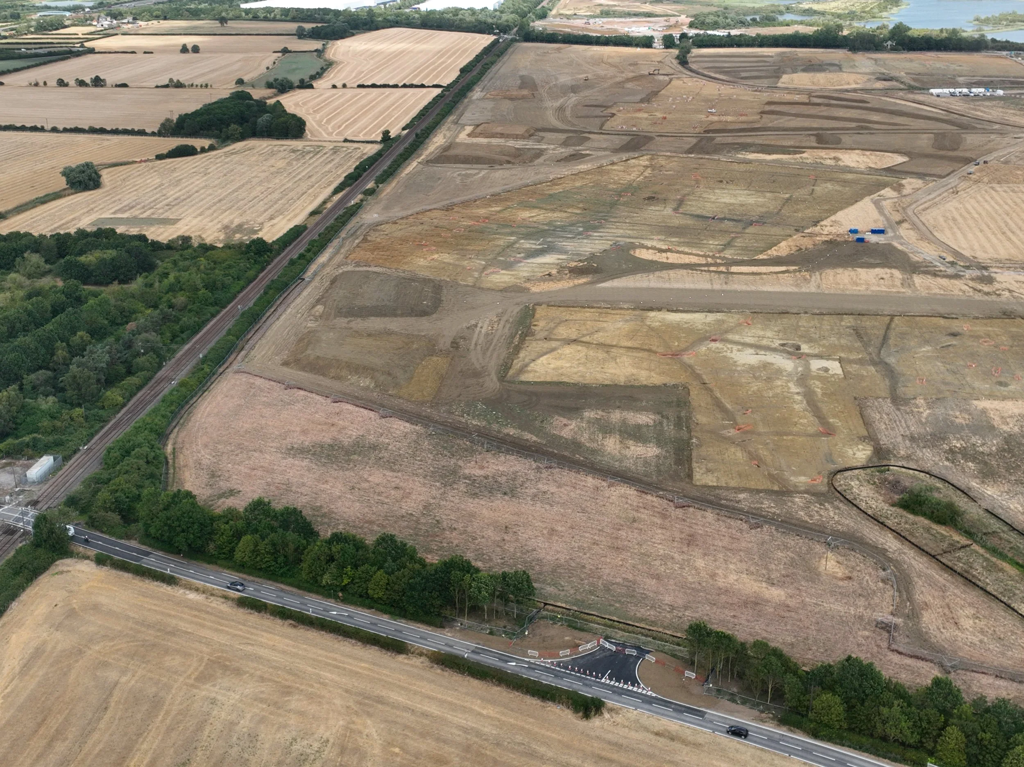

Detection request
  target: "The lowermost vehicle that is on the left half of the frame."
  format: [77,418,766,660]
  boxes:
[225,579,246,592]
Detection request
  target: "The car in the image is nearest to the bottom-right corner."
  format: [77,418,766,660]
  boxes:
[726,725,750,741]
